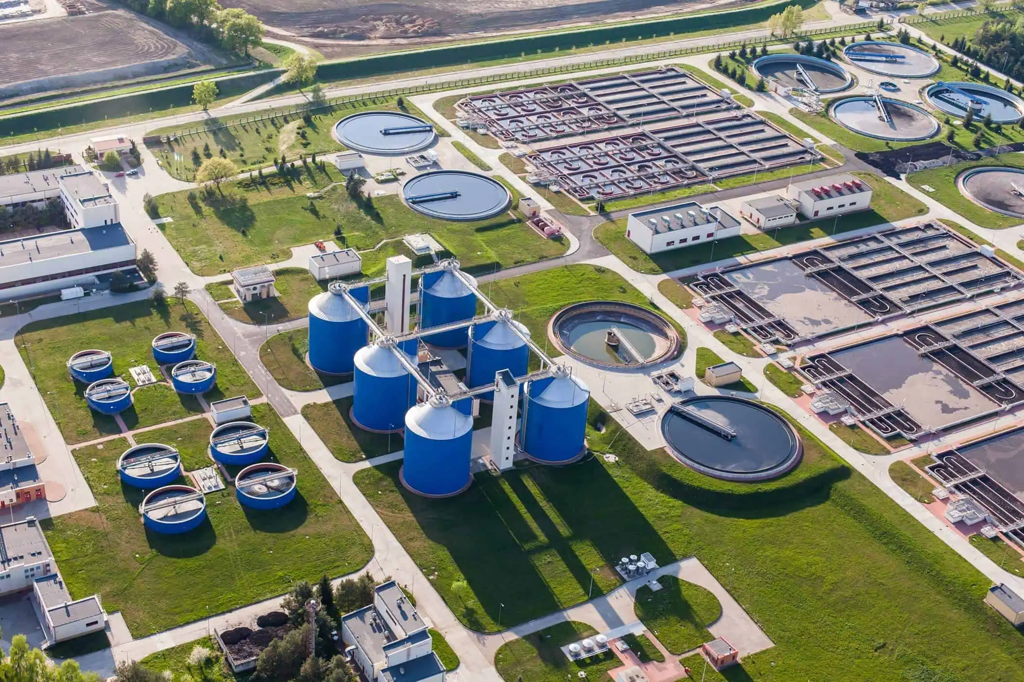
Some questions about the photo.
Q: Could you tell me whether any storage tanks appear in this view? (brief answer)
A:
Yes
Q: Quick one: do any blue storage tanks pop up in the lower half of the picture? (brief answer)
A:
Yes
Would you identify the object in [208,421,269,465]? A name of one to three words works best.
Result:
storage tank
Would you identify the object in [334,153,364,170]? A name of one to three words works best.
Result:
shed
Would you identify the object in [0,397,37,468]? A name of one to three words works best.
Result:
building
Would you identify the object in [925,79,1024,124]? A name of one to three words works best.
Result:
storage tank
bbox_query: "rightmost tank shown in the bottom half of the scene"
[658,395,803,482]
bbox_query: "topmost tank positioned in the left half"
[336,110,436,154]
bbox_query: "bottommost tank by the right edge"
[959,167,1024,219]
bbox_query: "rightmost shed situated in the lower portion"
[983,585,1024,623]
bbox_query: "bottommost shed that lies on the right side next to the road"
[702,637,737,671]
